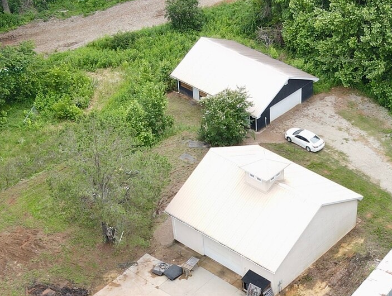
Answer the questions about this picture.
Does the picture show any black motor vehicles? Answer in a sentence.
No, I can see no black motor vehicle in this picture.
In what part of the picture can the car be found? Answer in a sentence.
The car is in the right part of the image.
